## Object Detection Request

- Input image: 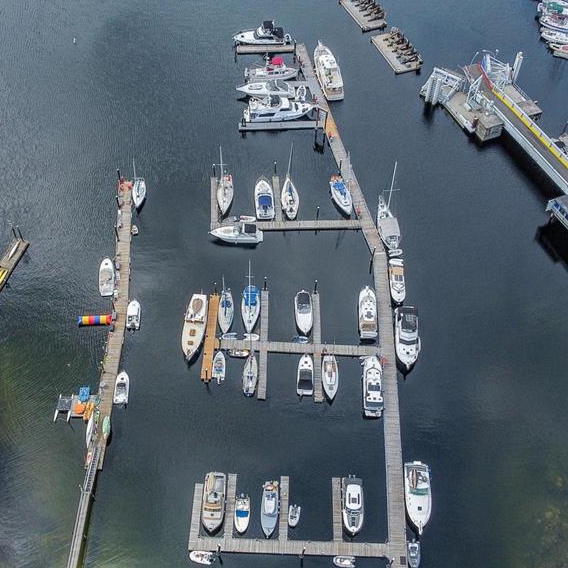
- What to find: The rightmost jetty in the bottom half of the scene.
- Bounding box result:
[372,253,409,568]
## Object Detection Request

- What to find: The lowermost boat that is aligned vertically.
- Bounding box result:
[407,538,420,568]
